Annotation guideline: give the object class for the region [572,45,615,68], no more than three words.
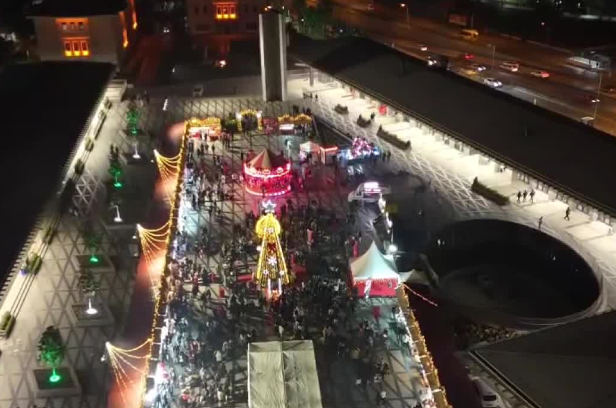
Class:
bus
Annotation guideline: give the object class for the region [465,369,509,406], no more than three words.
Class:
car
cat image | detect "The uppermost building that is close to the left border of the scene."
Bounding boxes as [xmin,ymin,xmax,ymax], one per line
[22,0,162,64]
